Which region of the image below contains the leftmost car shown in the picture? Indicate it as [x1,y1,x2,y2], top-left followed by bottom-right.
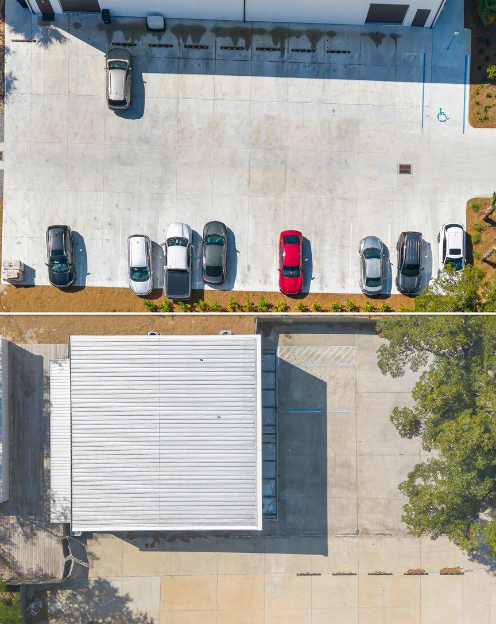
[44,226,76,287]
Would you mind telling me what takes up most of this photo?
paved ground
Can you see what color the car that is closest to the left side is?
black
